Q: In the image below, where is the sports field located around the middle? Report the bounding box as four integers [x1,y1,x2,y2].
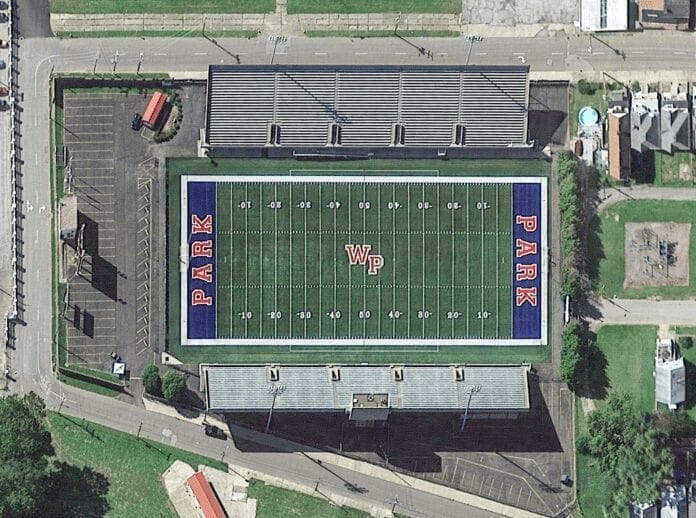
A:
[166,157,551,364]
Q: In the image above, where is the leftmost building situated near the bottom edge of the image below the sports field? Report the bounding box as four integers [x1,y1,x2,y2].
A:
[187,472,226,518]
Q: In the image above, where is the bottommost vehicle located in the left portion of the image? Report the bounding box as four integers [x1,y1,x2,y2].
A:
[207,427,226,439]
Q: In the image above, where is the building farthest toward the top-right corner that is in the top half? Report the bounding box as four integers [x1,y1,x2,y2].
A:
[639,0,690,31]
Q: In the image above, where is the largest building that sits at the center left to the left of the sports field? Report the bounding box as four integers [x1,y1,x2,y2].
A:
[58,196,77,243]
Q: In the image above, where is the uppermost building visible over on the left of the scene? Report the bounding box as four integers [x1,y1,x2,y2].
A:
[143,92,168,129]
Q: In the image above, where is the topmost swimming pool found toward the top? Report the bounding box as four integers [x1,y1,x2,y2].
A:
[581,107,600,126]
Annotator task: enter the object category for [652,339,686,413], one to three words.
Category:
house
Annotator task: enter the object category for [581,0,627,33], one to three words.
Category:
building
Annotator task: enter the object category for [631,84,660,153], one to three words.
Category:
house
